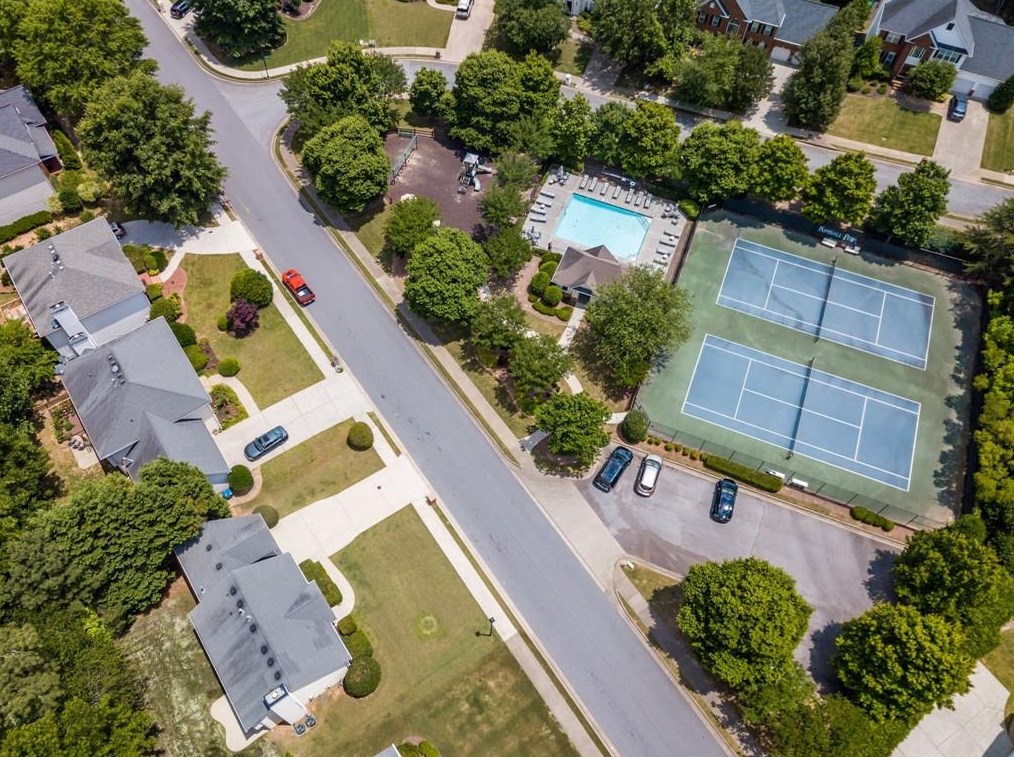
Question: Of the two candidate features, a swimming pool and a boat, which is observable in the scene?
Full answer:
The image shows a swimming pool.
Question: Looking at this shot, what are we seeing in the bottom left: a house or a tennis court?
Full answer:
The feature located in the bottom left is a house.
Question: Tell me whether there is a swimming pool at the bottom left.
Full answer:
No, I can find no swimming pool at the bottom left.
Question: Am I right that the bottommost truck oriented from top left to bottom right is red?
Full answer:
Yes, red is the color of the bottommost truck oriented from top left to bottom right.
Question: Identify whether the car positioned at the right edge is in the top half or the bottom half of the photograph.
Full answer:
Seen from above, the car positioned at the right edge lies in the top half of the view.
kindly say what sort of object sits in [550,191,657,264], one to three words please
swimming pool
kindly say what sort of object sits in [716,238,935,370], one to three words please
tennis court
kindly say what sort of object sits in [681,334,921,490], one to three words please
tennis court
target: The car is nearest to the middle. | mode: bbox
[594,447,631,495]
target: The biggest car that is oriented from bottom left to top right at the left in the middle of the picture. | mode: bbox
[243,424,292,463]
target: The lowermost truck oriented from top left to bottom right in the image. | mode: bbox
[279,270,320,308]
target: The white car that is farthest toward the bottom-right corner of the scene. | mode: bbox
[634,456,662,500]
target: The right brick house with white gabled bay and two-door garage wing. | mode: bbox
[870,0,1014,99]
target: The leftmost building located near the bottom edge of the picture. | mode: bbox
[177,512,354,741]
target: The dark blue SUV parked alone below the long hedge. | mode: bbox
[710,480,738,527]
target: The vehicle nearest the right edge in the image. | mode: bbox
[946,98,967,124]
